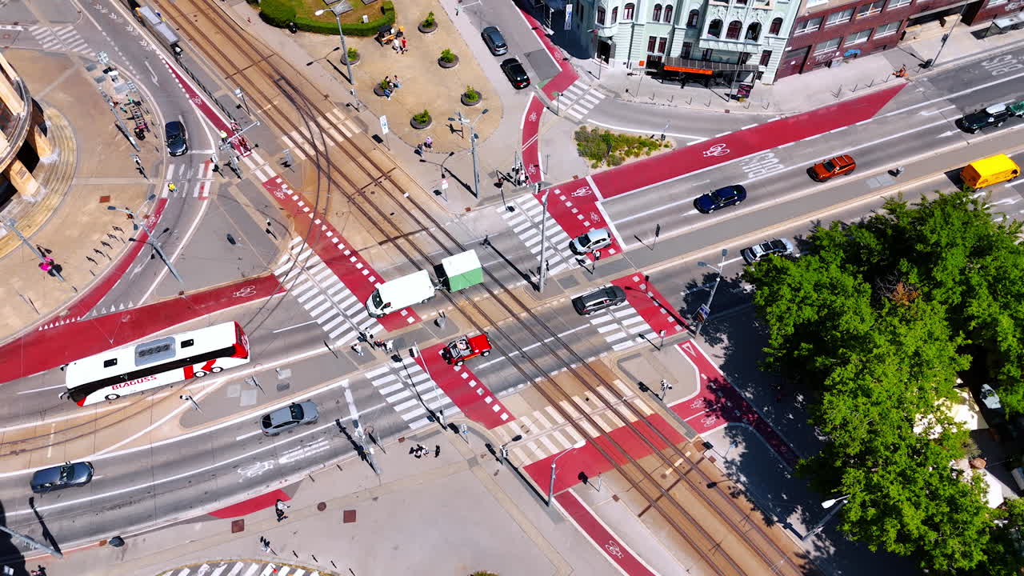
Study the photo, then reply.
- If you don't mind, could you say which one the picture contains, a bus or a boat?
bus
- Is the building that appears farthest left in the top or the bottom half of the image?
top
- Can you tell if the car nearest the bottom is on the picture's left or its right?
left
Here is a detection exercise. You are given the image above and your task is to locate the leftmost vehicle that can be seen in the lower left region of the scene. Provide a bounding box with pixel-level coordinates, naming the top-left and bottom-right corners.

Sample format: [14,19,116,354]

[24,458,95,496]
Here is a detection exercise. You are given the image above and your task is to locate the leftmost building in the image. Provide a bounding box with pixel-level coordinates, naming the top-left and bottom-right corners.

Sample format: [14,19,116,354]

[0,75,79,256]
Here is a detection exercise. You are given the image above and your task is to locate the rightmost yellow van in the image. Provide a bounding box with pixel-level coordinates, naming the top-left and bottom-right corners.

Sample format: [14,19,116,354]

[963,154,1023,189]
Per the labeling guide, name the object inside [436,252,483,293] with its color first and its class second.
white trailer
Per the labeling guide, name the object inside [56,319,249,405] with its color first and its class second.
white bus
